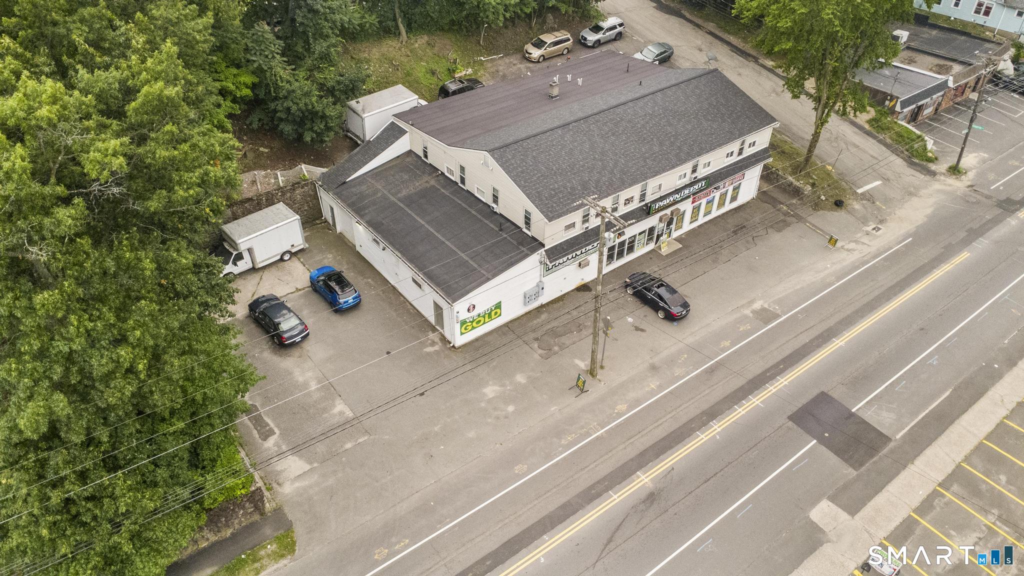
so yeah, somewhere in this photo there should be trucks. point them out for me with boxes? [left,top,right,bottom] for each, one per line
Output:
[198,205,309,290]
[347,87,433,143]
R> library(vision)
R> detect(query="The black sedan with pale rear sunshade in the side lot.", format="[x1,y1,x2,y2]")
[248,296,309,350]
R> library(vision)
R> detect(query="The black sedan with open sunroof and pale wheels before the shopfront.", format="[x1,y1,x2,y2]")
[624,269,696,321]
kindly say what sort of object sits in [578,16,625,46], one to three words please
car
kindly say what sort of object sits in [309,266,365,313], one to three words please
car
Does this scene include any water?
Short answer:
No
